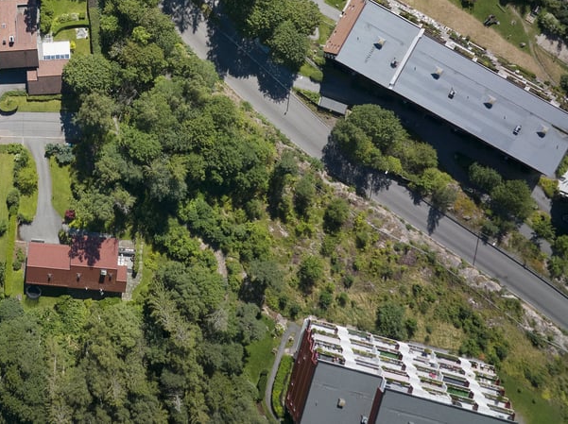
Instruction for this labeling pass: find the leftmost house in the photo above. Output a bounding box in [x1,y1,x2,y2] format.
[0,0,39,69]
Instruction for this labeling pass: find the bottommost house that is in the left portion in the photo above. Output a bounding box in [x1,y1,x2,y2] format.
[25,231,127,292]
